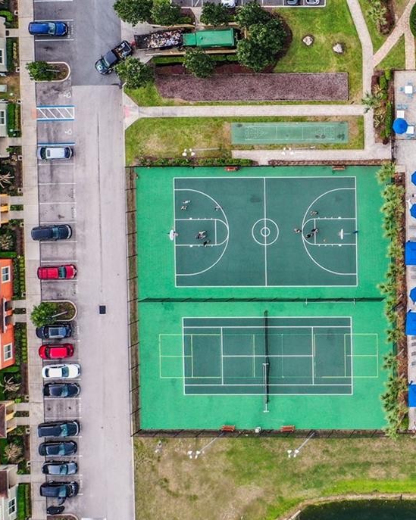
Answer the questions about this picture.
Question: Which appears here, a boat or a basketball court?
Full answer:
There is a basketball court in the scene.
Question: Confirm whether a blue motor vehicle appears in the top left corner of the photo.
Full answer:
Yes, there is a blue motor vehicle in the top left corner of the photo.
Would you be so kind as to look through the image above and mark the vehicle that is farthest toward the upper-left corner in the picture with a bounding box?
[28,19,71,37]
